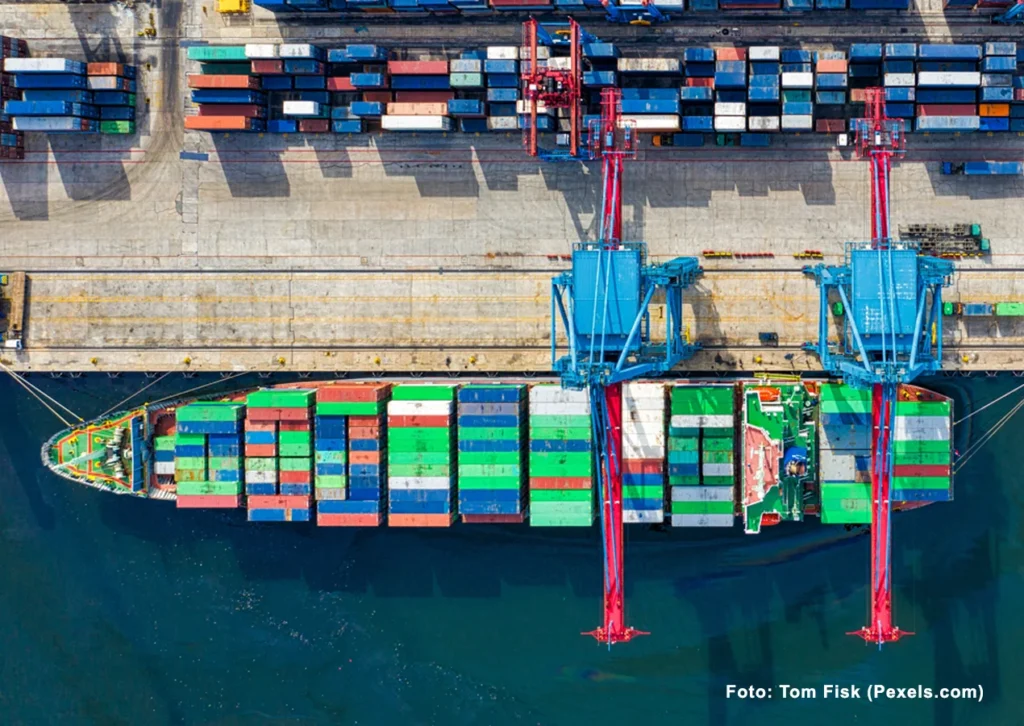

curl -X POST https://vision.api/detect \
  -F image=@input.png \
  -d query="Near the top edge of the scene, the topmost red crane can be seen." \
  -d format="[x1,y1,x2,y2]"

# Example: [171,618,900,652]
[523,18,609,159]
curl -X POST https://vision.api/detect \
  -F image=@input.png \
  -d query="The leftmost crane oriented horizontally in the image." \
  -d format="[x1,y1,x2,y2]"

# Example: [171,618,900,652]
[595,0,673,22]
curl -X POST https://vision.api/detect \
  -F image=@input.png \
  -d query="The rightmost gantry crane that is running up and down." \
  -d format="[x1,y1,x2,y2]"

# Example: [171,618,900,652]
[802,89,952,651]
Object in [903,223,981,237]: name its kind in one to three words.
vehicle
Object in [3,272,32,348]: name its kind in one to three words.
truck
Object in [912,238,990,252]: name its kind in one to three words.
vehicle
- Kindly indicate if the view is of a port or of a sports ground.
port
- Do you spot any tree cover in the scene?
No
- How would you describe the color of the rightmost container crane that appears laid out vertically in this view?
blue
